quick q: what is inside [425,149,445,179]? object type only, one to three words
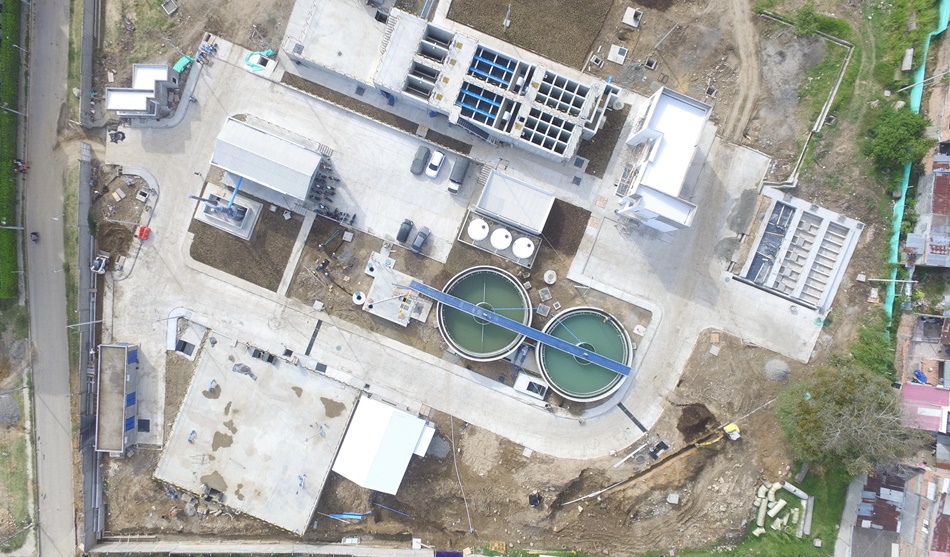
car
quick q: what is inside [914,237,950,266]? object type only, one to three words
house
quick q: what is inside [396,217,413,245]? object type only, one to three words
car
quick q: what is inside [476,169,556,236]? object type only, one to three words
building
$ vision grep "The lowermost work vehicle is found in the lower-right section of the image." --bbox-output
[705,423,743,443]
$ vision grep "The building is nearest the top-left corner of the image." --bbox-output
[107,64,181,117]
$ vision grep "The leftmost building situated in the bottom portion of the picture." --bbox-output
[95,342,160,460]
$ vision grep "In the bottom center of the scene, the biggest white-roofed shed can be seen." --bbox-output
[331,394,437,494]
